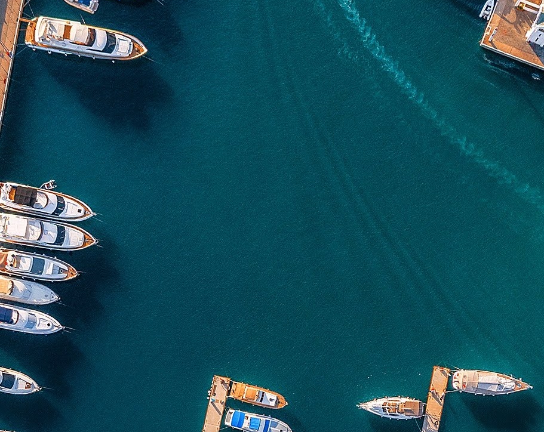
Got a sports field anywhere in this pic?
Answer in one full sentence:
No, there's no sports field here.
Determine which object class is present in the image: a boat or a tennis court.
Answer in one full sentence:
Of the two, only a boat appears.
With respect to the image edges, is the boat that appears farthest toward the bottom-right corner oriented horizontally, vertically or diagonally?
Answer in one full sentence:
The boat that appears farthest toward the bottom-right corner is laid out horizontally.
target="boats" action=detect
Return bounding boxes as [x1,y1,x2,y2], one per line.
[0,214,123,252]
[0,248,104,282]
[448,369,534,396]
[0,181,116,225]
[0,278,83,309]
[224,411,293,432]
[0,304,74,337]
[355,395,429,421]
[62,0,105,18]
[0,367,65,396]
[477,0,494,24]
[225,376,290,408]
[13,12,172,62]
[39,176,63,190]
